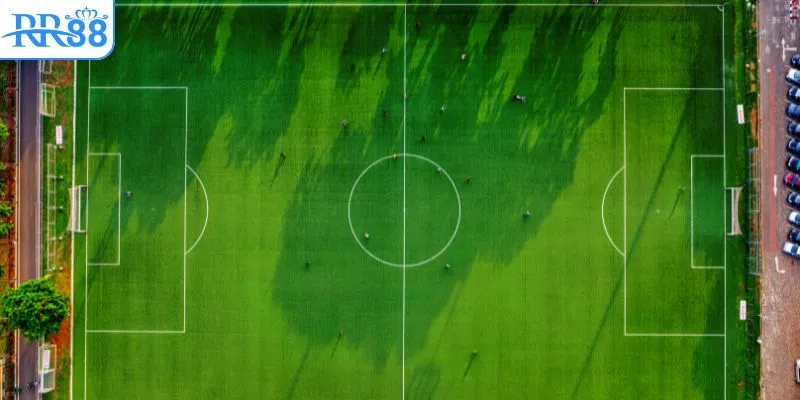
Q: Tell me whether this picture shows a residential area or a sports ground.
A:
sports ground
